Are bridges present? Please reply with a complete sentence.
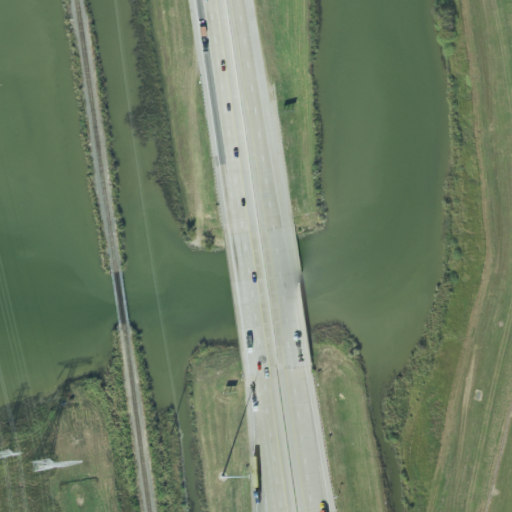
Yes, a bridge is visible in the scene.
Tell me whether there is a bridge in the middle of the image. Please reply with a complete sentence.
Yes, I can see a bridge in the middle of the image.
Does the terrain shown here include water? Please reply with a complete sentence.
Yes, there is water in the image.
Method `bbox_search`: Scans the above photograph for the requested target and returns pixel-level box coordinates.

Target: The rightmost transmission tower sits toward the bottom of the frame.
[34,458,83,474]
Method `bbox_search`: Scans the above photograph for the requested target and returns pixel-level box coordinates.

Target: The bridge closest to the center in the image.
[223,231,313,367]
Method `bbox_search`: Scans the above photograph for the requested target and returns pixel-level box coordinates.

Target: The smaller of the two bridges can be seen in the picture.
[110,271,129,324]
